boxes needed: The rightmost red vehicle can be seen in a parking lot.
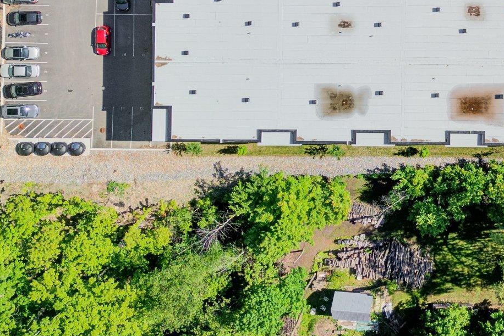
[93,24,112,56]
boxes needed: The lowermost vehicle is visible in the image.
[1,103,39,120]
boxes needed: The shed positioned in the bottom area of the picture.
[330,283,377,323]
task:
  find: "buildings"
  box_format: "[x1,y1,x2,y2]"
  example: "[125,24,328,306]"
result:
[153,0,504,146]
[330,283,377,323]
